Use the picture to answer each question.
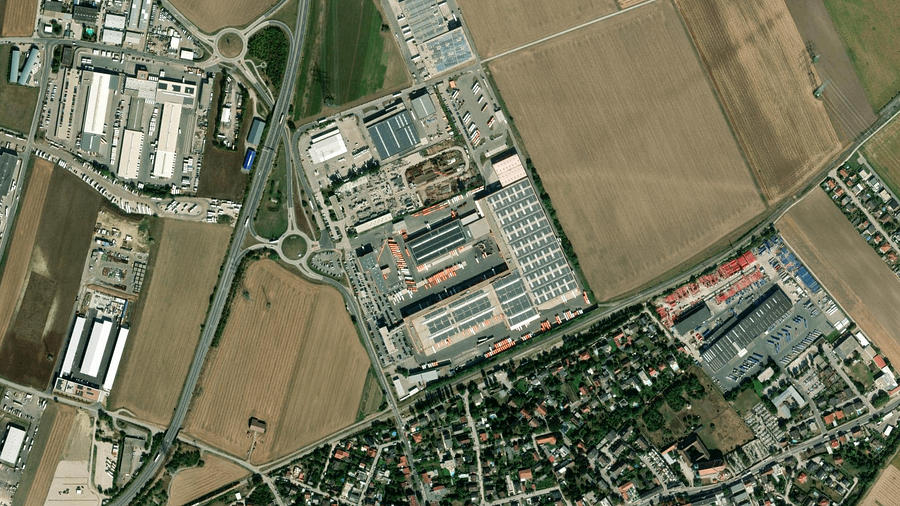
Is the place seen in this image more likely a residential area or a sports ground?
residential area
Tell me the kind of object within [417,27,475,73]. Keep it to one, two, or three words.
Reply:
building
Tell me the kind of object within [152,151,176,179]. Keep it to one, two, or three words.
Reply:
building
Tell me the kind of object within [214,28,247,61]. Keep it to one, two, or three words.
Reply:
roundabout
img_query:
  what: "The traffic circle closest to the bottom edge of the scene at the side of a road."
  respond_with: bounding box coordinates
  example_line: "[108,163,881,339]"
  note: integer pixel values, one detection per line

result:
[279,230,309,261]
